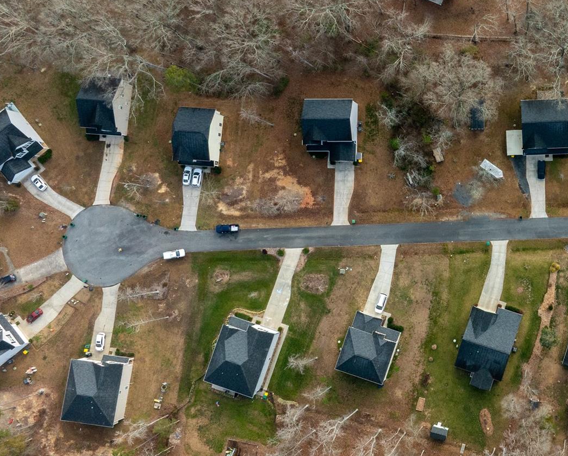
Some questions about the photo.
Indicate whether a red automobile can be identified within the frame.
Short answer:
Yes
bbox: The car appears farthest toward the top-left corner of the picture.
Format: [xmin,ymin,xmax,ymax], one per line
[29,174,46,192]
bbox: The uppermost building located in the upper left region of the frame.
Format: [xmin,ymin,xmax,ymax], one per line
[72,77,131,136]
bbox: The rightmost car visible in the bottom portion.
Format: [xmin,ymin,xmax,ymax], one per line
[374,293,387,315]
